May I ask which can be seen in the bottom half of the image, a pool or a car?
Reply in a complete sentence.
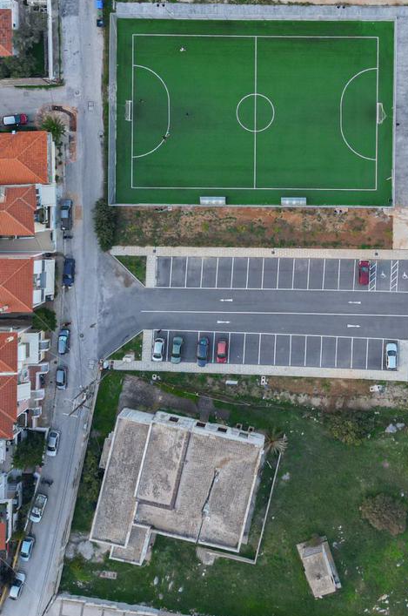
You can see a car in the bottom half of the image.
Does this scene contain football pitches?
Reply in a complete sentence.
Yes, the picture does show a football pitch.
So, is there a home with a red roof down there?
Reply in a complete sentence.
Yes, the photo shows a home with a red roof.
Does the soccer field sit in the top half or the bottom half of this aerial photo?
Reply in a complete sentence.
Seen from above, the soccer field lies in the top half of the view.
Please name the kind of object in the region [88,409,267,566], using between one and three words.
building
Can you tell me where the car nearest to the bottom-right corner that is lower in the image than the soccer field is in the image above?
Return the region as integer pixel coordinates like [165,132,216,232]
[385,342,398,369]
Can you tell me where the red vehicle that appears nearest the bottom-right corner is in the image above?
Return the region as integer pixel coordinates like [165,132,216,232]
[215,337,228,361]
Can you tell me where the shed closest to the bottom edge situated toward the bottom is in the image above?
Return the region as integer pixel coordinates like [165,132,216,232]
[296,534,342,596]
